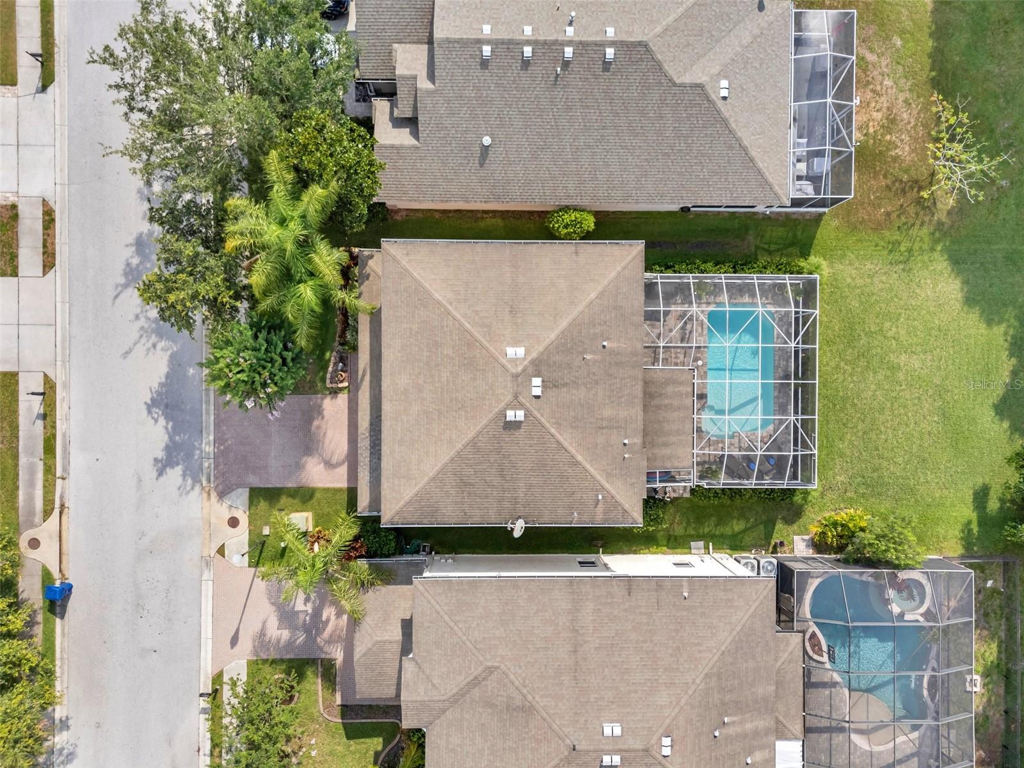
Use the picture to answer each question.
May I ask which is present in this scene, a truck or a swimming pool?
swimming pool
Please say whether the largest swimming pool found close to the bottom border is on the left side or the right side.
right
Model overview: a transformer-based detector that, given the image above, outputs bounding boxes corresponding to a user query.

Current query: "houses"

[352,546,806,768]
[356,238,698,529]
[351,0,797,211]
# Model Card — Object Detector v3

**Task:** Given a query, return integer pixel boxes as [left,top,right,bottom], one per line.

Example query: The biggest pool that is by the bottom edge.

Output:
[804,571,944,753]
